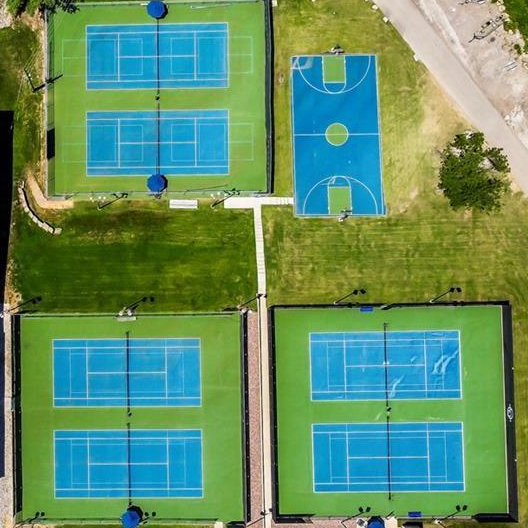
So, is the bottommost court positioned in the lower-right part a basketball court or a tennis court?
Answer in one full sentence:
In the photo, the bottommost court positioned in the lower-right part shows up as a tennis court.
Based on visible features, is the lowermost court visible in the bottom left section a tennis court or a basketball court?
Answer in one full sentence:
It looks like the lowermost court visible in the bottom left section is a tennis court.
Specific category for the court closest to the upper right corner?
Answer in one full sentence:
I'd say the court closest to the upper right corner is a basketball court.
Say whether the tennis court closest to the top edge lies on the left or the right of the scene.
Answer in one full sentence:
You can find the tennis court closest to the top edge on the left side of the picture.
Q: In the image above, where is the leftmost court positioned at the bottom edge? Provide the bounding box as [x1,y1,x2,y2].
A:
[18,418,245,522]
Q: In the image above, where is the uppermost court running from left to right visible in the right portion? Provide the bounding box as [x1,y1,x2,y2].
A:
[272,307,505,412]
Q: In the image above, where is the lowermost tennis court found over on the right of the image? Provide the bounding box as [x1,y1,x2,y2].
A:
[272,410,508,517]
